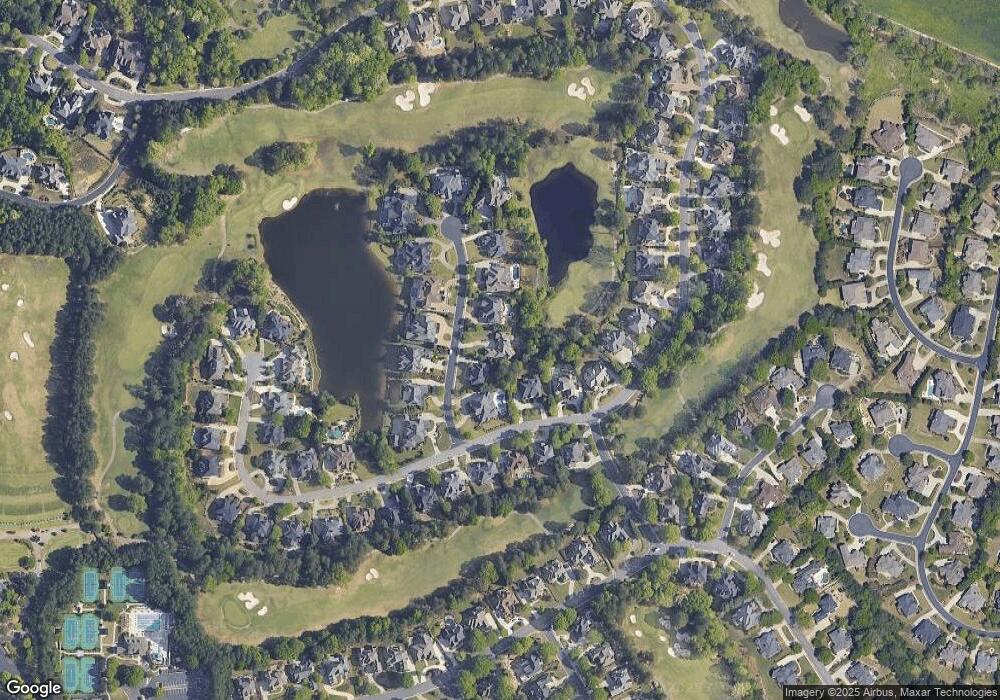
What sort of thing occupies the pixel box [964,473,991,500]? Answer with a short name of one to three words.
house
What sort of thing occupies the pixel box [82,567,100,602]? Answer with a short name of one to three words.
tennis court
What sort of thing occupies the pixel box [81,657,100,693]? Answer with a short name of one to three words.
tennis court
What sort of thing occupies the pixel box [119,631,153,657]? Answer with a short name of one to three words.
building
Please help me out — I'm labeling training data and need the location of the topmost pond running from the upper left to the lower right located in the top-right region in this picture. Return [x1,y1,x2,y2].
[776,0,852,62]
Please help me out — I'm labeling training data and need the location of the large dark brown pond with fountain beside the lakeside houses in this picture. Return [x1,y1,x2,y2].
[260,187,393,433]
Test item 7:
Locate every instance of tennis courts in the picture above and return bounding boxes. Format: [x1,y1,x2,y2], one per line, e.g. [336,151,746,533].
[64,614,82,650]
[64,657,82,693]
[82,567,100,602]
[110,567,128,602]
[81,657,100,693]
[81,614,100,650]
